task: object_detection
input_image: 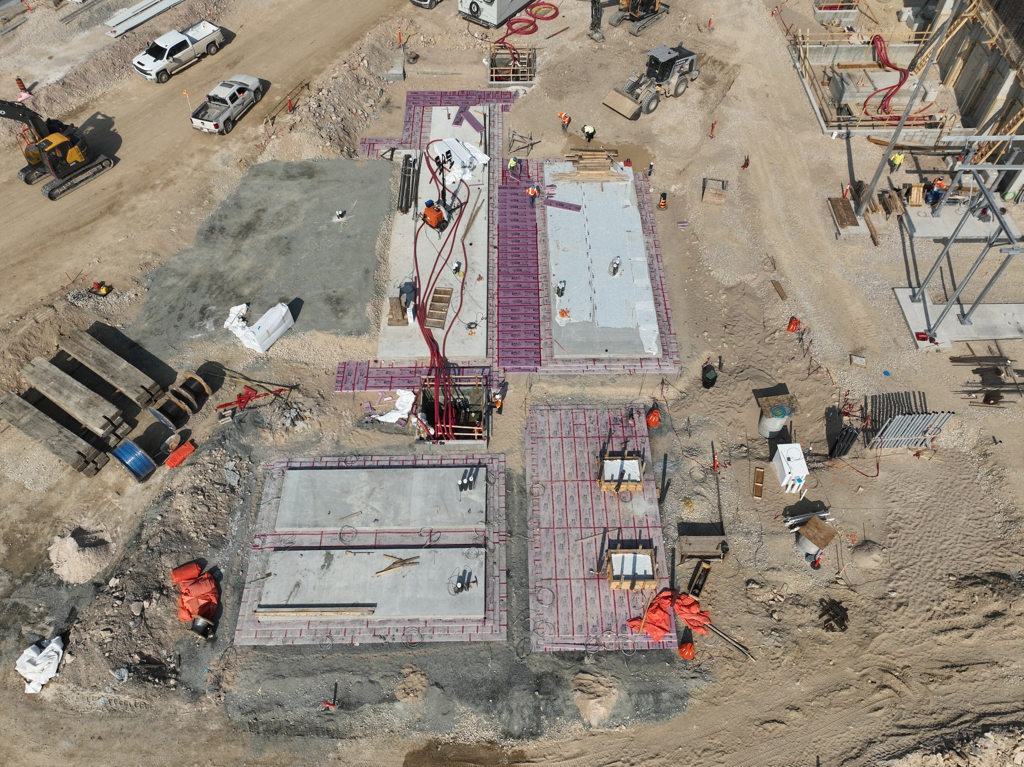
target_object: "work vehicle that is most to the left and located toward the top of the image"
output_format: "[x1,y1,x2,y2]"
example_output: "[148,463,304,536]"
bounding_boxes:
[0,111,112,200]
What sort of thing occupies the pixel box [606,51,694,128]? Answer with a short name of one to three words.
work vehicle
